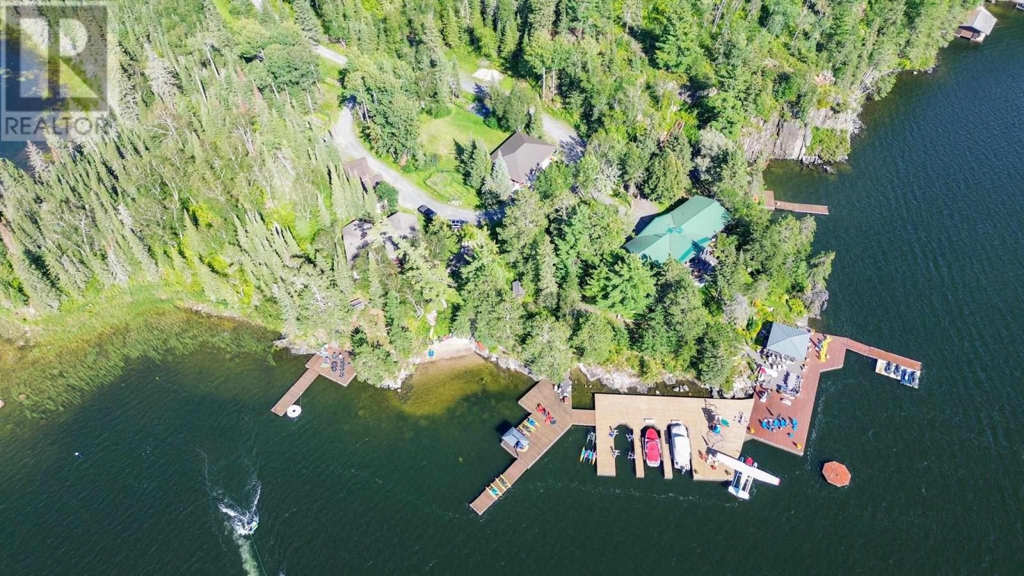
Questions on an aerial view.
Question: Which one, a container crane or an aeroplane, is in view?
aeroplane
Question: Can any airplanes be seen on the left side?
No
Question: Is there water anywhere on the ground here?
Yes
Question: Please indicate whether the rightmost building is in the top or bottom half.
top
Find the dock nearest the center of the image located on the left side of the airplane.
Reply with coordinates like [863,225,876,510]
[500,379,572,470]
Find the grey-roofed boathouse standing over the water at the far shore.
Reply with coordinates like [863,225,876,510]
[951,7,997,38]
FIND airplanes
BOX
[714,452,781,496]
